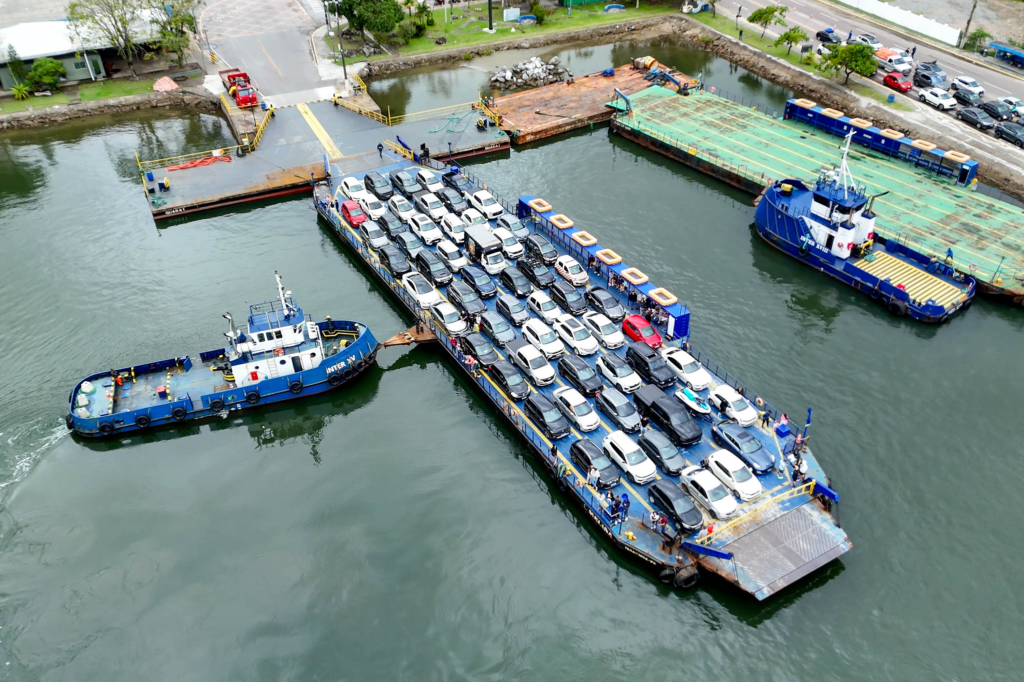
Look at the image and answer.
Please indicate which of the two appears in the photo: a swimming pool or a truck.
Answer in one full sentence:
It is a truck that can be seen here.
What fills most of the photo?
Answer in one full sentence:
The bulk of the photo consists of water.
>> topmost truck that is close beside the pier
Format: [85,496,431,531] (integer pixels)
[225,68,255,99]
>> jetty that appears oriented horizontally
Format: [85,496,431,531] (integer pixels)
[132,90,512,220]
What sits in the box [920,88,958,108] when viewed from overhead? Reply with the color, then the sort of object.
white vehicle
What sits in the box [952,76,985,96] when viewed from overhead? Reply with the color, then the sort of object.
white car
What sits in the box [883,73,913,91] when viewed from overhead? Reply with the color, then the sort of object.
red car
